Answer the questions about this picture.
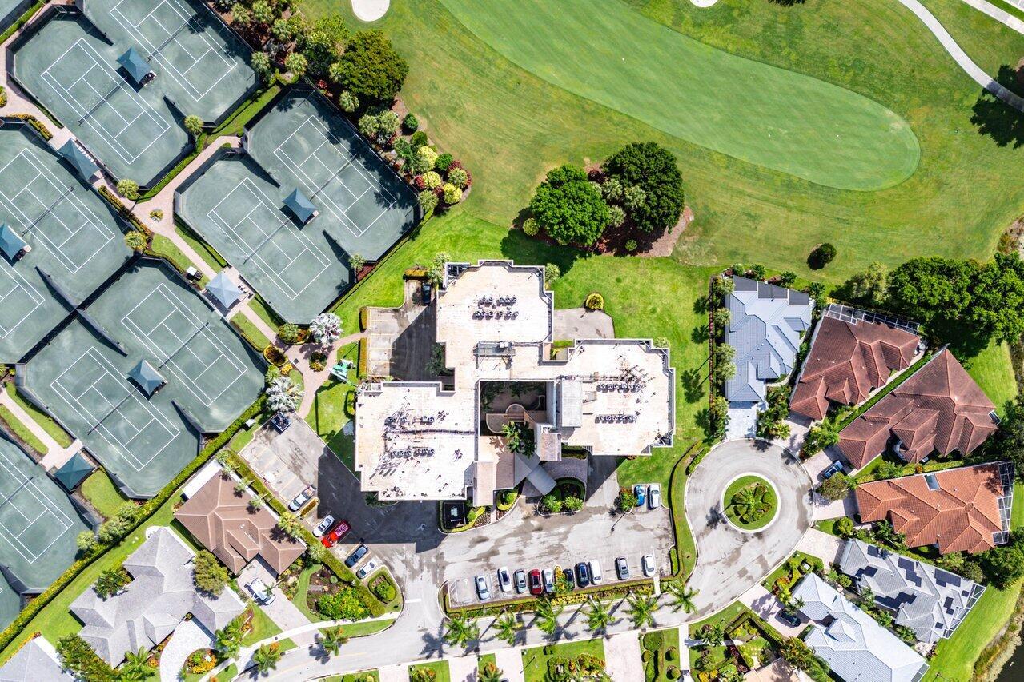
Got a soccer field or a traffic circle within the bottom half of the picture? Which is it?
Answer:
traffic circle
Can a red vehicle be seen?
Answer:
Yes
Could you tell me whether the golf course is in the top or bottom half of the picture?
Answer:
top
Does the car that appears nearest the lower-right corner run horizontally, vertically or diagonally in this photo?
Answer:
diagonally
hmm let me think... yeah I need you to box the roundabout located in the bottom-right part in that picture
[721,473,781,533]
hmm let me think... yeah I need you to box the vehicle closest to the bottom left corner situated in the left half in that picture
[243,576,273,603]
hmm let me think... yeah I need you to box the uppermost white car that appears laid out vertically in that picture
[648,483,660,508]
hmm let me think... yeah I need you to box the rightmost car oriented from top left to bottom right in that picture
[776,607,802,628]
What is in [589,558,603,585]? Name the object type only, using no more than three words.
vehicle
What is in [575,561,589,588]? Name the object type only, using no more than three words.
car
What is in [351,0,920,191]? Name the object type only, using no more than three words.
golf course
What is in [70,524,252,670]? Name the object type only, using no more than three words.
house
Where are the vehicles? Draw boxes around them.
[543,568,555,593]
[648,483,660,508]
[575,561,589,588]
[530,569,542,595]
[562,563,575,590]
[289,487,316,511]
[346,544,369,567]
[589,558,603,585]
[821,458,846,479]
[497,566,513,593]
[634,484,645,508]
[514,569,526,593]
[476,574,491,600]
[776,607,802,628]
[323,520,352,548]
[616,556,628,580]
[421,281,432,306]
[243,576,273,603]
[314,515,336,536]
[643,553,655,577]
[185,267,201,279]
[357,558,379,577]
